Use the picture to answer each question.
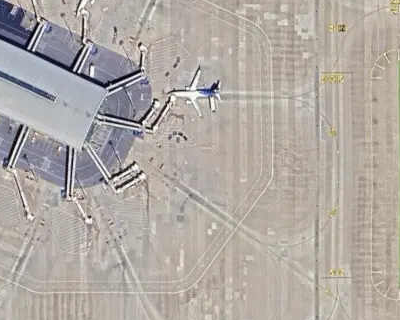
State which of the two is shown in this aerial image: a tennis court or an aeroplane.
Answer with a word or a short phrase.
aeroplane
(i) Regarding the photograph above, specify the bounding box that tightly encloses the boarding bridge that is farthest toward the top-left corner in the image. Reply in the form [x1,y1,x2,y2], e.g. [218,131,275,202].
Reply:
[26,0,51,53]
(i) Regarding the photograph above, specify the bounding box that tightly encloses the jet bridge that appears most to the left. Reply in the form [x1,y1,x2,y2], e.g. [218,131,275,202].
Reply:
[2,125,34,220]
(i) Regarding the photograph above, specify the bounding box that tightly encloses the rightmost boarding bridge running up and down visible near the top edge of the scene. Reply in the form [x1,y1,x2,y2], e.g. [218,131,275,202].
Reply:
[73,9,97,75]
